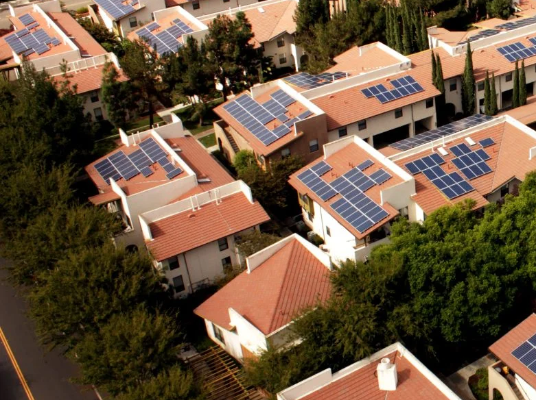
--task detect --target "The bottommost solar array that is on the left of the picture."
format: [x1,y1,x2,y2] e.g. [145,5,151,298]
[94,138,194,182]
